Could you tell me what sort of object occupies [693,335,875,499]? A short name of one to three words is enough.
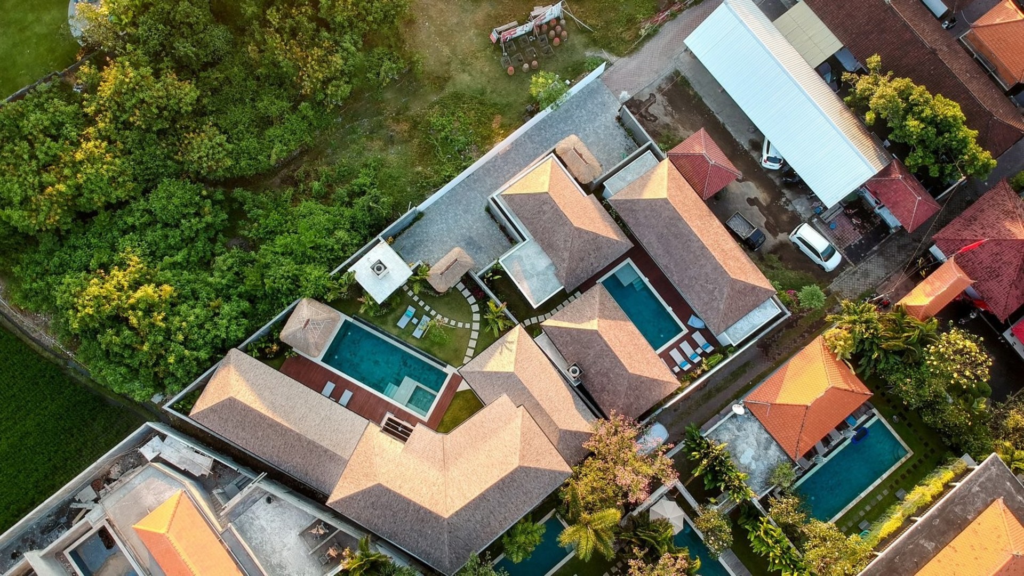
house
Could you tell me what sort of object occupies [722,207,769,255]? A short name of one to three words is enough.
truck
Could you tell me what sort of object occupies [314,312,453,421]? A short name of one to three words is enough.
swimming pool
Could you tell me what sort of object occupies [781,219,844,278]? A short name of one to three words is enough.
car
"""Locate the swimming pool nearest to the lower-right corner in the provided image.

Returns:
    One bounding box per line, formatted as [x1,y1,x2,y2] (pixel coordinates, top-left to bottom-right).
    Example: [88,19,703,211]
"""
[791,415,916,521]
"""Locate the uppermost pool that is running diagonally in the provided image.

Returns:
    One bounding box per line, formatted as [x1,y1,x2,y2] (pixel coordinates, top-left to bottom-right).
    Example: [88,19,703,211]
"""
[600,256,689,354]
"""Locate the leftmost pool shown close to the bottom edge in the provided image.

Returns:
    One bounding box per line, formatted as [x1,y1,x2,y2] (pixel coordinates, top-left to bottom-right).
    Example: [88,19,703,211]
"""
[475,509,582,576]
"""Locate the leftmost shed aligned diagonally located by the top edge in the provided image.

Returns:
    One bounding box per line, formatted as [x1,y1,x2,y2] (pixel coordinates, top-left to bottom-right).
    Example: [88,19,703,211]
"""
[684,0,893,208]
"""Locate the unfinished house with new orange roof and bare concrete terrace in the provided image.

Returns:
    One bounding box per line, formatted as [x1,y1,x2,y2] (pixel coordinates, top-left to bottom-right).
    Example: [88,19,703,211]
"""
[99,461,259,576]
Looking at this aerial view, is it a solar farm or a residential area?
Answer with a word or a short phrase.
residential area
